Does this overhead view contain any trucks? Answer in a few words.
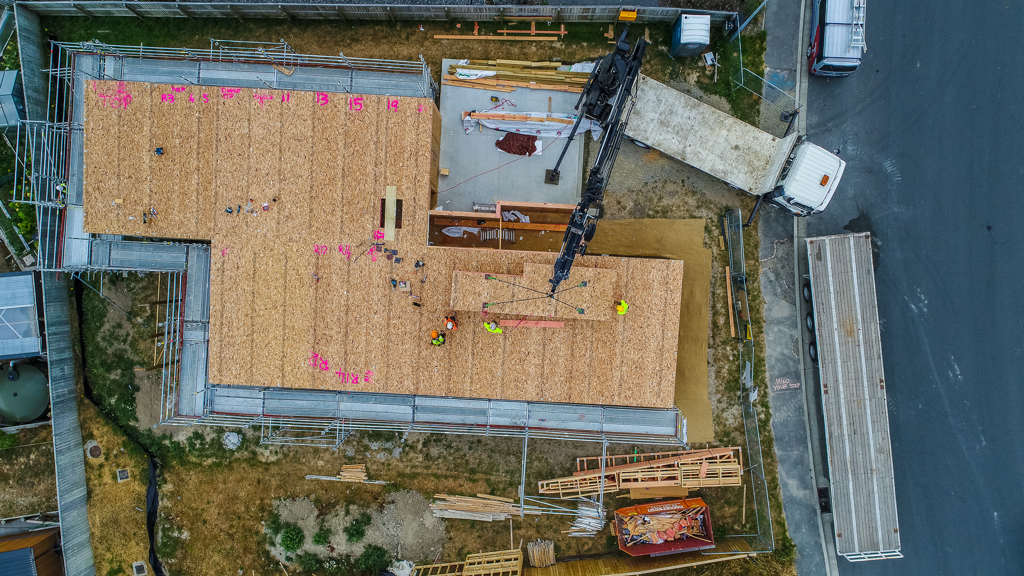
Yes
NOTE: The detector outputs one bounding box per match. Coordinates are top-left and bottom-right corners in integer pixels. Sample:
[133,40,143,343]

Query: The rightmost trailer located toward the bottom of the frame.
[799,232,911,565]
